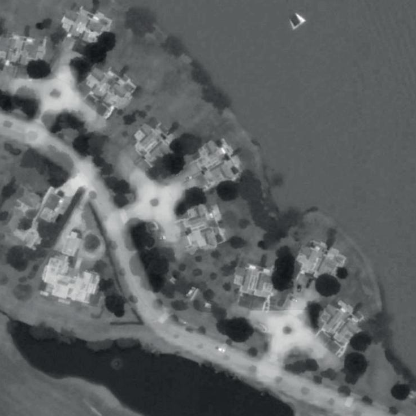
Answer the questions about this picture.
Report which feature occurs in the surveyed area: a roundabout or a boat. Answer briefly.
roundabout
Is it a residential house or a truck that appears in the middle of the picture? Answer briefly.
residential house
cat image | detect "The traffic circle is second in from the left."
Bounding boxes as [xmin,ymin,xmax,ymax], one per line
[106,152,192,246]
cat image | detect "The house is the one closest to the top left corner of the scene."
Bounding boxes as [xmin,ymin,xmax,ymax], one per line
[0,24,43,78]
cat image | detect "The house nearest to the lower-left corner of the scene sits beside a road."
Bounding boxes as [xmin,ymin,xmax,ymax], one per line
[37,231,99,305]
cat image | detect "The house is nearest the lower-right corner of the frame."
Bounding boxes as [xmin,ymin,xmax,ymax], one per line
[311,293,371,356]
